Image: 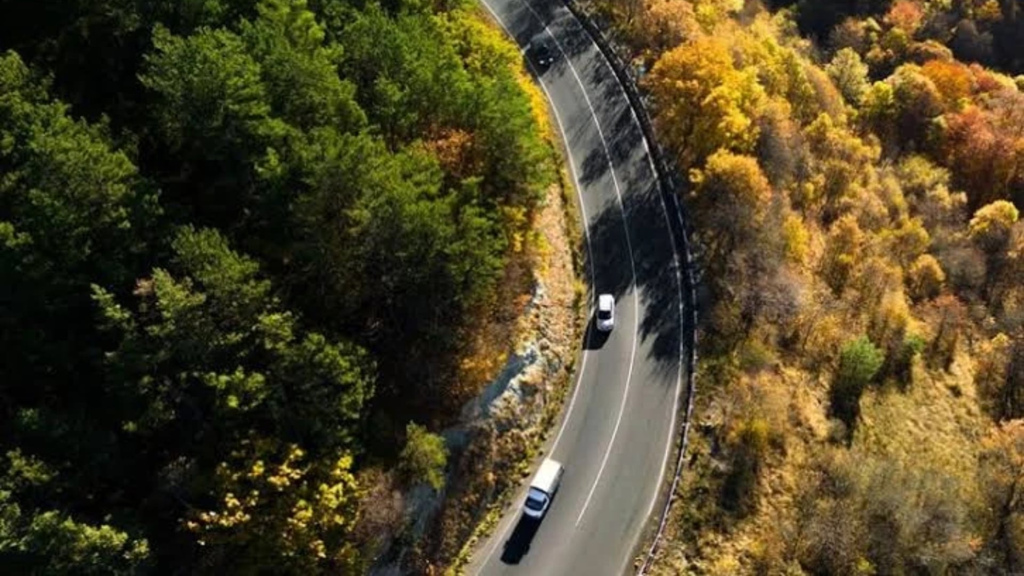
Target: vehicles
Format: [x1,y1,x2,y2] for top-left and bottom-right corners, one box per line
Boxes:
[519,454,564,526]
[532,40,556,68]
[594,292,615,329]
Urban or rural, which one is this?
rural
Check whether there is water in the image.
No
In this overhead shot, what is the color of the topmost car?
black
